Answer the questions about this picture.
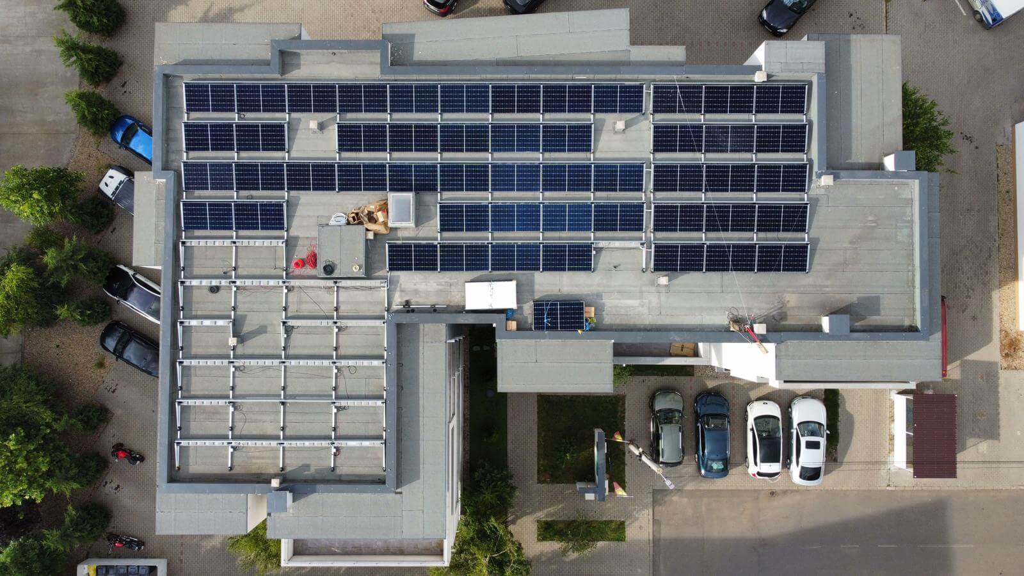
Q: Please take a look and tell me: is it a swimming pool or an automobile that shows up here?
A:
automobile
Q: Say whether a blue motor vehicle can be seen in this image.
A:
Yes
